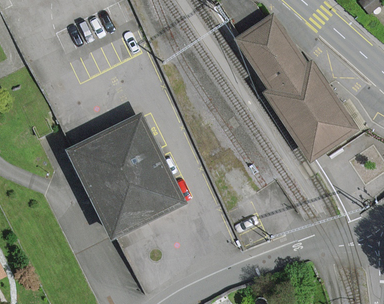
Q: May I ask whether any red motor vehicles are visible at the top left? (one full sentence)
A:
No, the scene shows no red motor vehicle at the top left.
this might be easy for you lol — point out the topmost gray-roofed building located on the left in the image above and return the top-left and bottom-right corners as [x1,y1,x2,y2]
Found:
[65,113,187,240]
